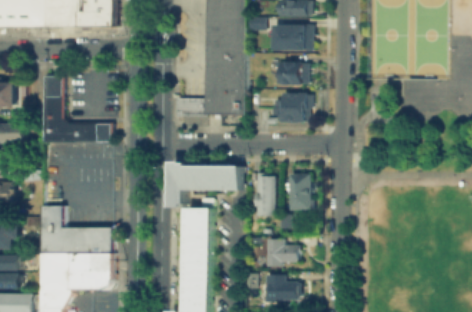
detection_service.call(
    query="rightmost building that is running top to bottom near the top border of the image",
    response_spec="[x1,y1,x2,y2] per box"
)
[206,0,251,113]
